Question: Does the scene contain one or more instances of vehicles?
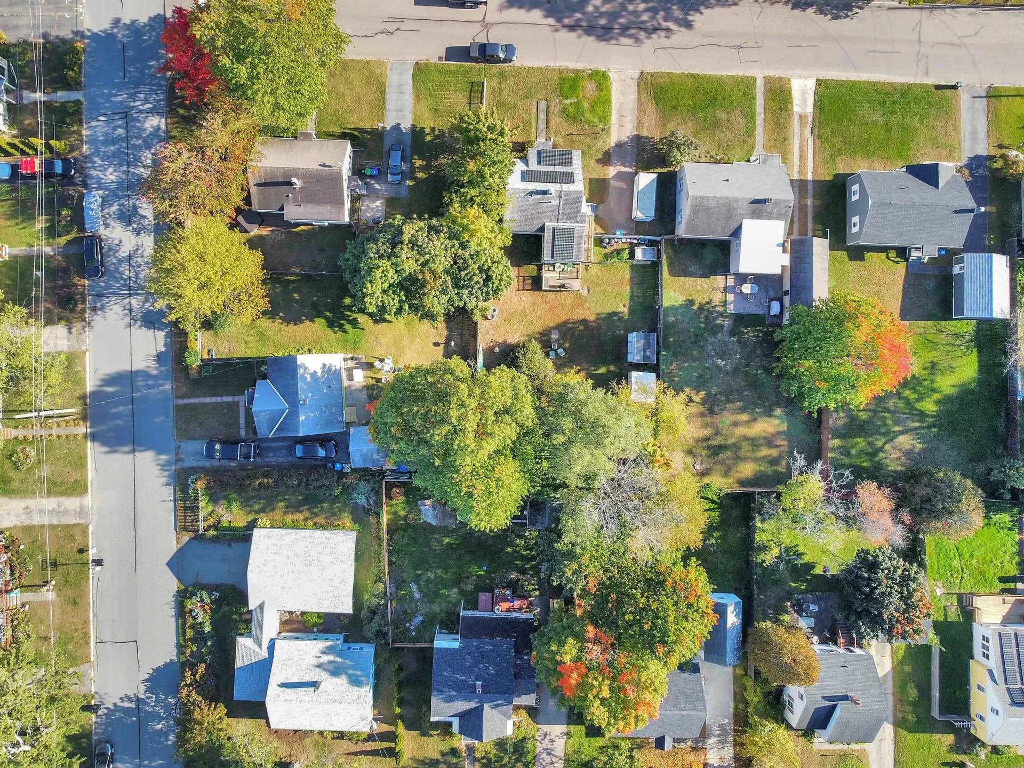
Yes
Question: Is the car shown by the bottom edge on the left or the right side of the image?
left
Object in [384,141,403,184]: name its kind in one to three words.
car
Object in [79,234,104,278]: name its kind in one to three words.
car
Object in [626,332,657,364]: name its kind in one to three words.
shed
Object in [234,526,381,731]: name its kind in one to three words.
house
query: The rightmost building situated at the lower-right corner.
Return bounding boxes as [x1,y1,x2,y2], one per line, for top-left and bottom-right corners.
[961,594,1024,745]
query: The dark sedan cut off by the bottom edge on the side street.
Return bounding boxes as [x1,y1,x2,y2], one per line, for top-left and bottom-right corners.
[91,737,113,768]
